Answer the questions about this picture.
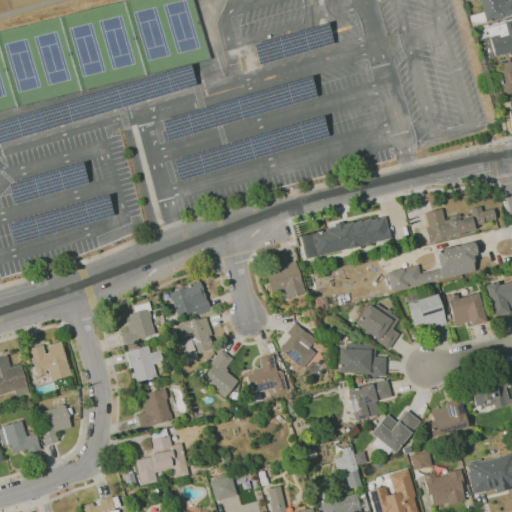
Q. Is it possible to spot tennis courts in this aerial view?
Yes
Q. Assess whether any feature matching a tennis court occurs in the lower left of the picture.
No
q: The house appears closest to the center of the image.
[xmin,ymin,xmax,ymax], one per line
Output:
[269,262,311,298]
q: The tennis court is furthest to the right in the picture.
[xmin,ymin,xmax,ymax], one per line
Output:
[166,0,200,54]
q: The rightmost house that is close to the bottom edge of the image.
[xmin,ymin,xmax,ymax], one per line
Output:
[470,453,512,496]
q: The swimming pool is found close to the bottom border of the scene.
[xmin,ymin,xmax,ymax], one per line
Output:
[184,486,206,500]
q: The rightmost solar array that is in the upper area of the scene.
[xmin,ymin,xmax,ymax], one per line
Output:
[258,22,335,63]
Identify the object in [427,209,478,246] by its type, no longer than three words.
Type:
building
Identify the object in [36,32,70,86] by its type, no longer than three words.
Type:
tennis court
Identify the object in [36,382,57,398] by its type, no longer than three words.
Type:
swimming pool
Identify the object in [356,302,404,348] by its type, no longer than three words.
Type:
house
